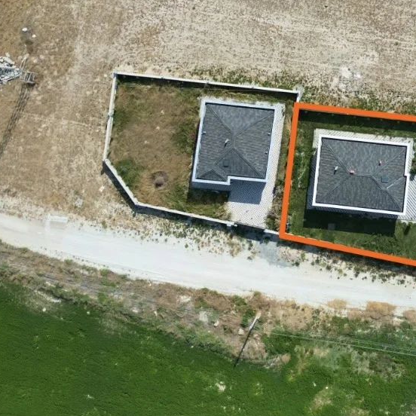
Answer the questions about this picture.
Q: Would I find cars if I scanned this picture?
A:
No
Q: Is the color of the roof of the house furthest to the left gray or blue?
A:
gray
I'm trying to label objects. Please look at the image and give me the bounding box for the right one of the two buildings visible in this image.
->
[312,134,410,216]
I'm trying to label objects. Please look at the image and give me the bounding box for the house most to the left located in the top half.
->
[192,100,277,185]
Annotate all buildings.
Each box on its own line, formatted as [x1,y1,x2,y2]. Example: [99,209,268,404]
[312,134,410,216]
[192,100,277,185]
